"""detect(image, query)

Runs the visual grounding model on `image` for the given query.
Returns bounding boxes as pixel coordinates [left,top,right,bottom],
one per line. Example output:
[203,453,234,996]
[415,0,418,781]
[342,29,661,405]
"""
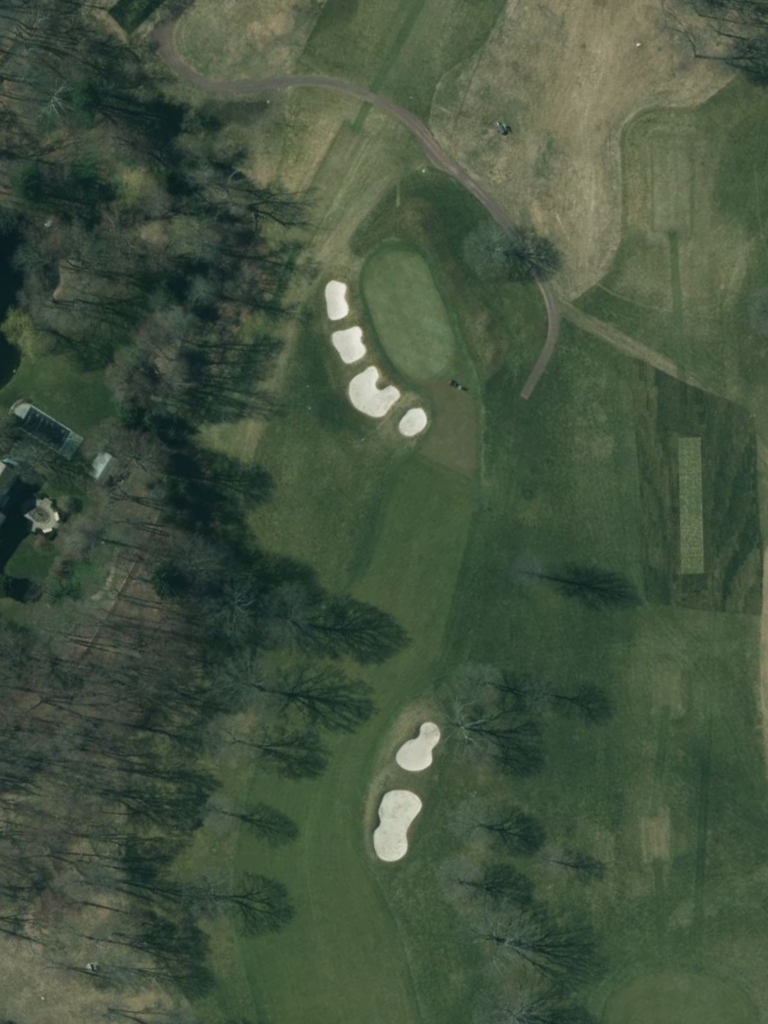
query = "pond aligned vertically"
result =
[0,225,21,389]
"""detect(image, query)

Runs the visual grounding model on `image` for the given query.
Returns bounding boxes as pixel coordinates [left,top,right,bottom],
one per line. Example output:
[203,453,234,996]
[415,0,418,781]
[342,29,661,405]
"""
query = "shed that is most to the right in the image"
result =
[87,452,113,480]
